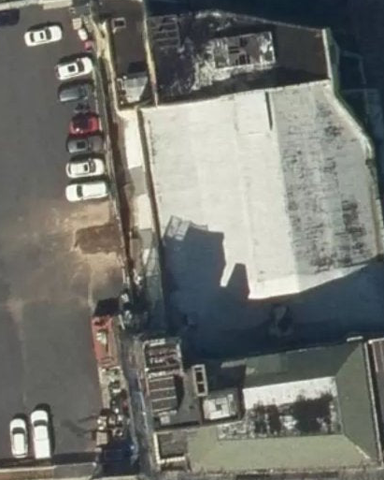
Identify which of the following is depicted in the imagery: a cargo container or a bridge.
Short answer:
cargo container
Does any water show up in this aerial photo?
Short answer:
No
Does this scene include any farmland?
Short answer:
No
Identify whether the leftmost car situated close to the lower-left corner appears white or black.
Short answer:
white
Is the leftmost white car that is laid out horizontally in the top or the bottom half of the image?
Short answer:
top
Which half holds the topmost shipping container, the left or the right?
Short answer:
left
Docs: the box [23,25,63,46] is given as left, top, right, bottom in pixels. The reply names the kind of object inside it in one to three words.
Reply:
car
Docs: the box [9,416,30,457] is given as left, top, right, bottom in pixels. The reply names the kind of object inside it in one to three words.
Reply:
car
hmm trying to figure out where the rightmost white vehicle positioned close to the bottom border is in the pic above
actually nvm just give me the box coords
[28,407,51,459]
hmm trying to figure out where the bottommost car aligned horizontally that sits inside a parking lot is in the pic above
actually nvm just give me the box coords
[66,182,108,201]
